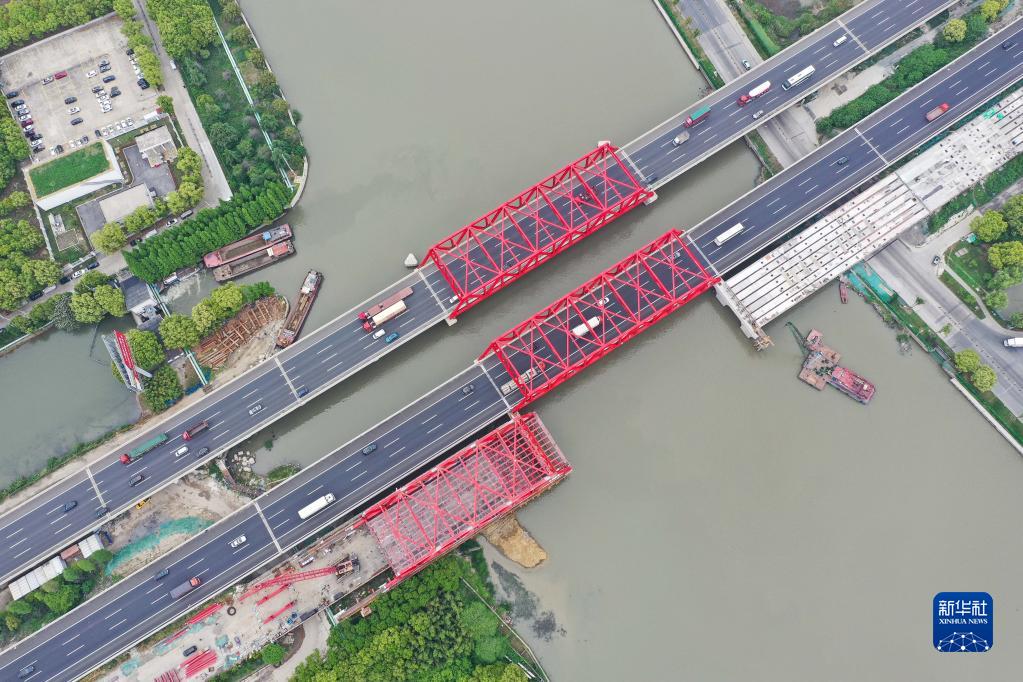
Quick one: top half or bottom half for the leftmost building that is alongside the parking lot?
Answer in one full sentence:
Seen from above, the leftmost building that is alongside the parking lot lies in the top half of the view.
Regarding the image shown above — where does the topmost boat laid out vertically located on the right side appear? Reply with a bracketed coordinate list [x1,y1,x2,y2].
[836,282,849,304]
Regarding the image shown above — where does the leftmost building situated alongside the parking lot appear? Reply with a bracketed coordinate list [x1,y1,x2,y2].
[24,139,121,208]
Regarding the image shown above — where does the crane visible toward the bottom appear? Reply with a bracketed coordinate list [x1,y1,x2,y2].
[239,553,362,601]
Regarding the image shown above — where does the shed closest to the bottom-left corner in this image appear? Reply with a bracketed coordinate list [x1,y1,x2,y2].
[10,556,67,600]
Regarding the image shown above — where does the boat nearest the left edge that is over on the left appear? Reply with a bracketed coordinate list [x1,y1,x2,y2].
[164,266,202,288]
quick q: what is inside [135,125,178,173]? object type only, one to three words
house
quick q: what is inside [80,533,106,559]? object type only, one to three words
shed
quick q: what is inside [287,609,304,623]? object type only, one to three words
vehicle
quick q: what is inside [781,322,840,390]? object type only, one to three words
ship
